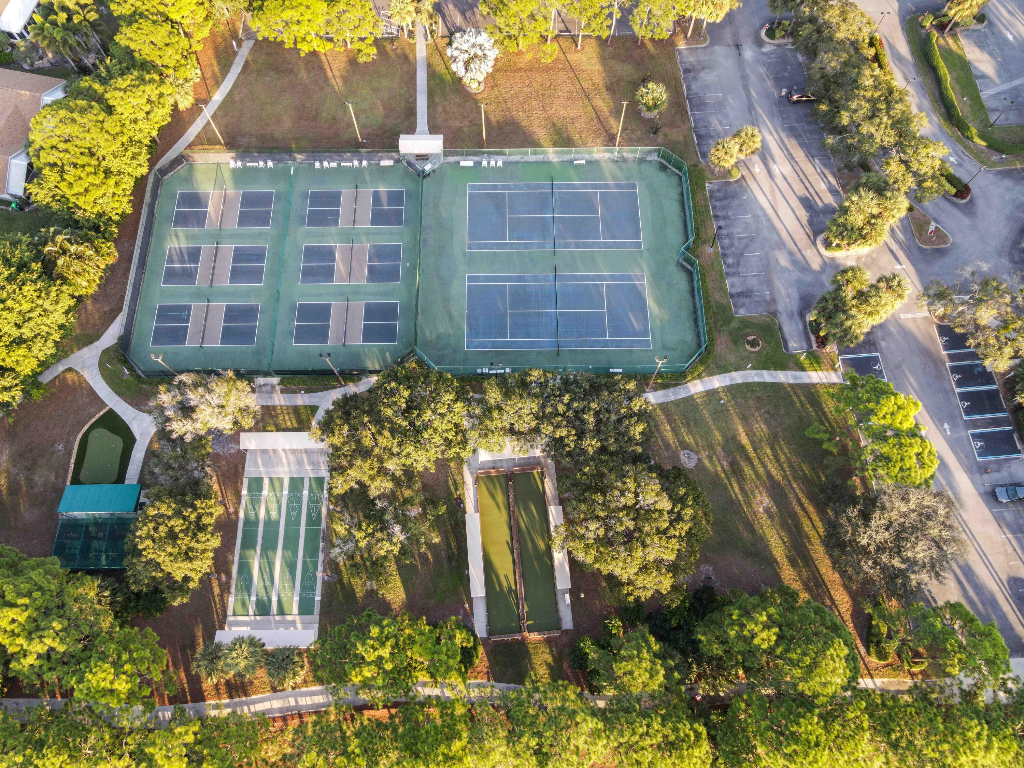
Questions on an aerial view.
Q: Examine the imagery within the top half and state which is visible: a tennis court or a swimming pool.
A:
tennis court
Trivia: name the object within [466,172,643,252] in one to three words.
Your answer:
tennis court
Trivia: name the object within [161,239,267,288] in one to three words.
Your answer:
sports court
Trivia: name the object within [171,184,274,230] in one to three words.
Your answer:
sports court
